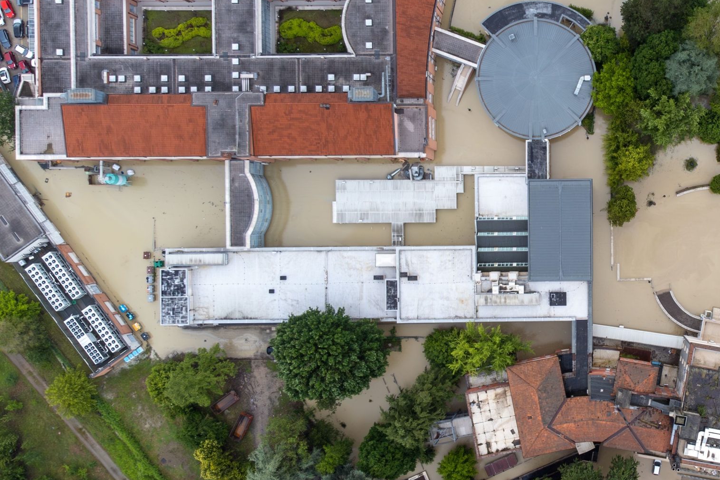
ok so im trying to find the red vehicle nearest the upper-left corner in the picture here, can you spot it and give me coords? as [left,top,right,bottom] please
[1,0,18,19]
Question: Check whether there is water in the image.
Yes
